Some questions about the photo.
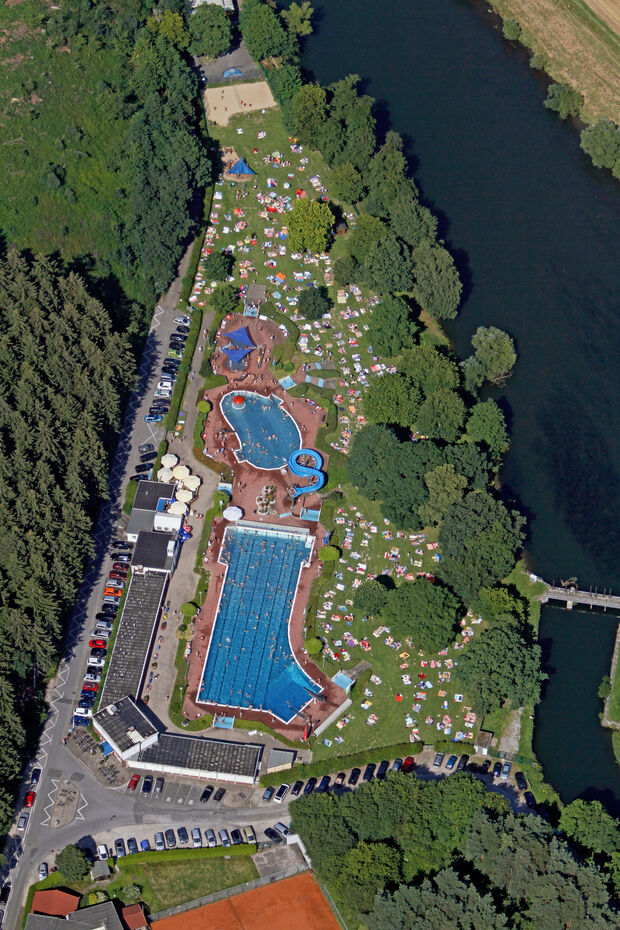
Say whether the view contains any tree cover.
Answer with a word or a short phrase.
Yes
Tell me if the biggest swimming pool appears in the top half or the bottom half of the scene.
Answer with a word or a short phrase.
bottom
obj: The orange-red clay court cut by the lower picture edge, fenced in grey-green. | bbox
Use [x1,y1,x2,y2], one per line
[146,871,335,930]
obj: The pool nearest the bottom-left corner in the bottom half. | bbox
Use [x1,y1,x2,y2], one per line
[193,526,326,726]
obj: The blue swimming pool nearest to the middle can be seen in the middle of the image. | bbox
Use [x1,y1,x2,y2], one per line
[219,390,303,470]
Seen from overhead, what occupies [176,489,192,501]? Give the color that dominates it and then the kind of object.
white umbrella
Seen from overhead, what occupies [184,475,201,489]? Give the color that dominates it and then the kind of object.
white umbrella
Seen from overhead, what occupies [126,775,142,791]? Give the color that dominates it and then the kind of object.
red car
